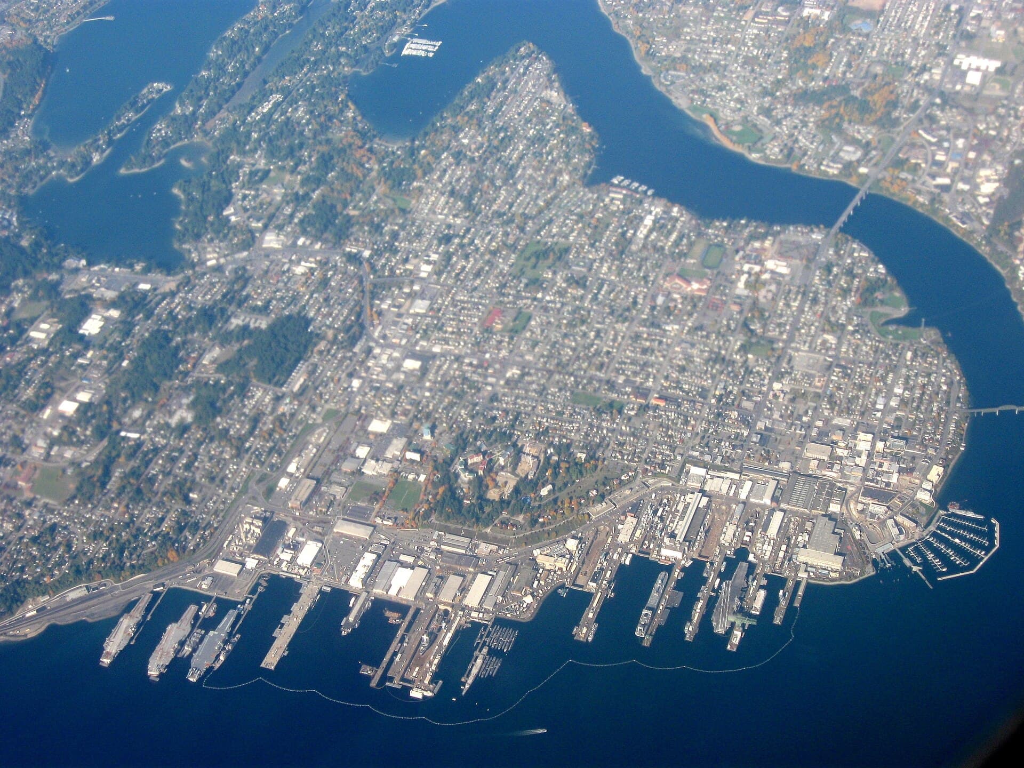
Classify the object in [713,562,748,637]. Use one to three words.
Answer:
ship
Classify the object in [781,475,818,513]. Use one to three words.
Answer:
building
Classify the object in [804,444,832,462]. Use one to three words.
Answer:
building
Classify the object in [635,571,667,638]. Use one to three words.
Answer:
ship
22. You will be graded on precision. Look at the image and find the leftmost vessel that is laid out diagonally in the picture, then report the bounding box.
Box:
[101,593,152,664]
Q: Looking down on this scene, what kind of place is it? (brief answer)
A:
port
